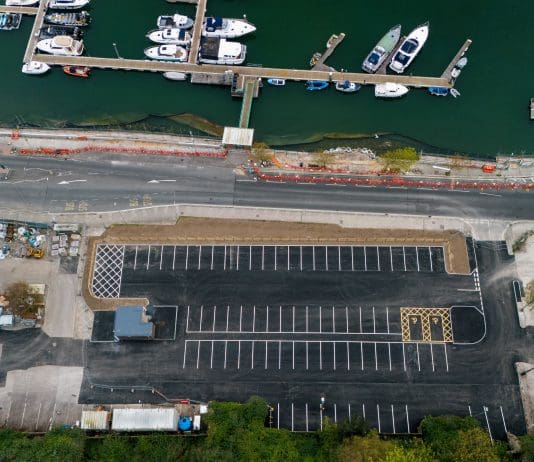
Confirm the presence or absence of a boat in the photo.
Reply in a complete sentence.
Yes, a boat is visible in the scene.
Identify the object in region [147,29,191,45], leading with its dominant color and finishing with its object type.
white boat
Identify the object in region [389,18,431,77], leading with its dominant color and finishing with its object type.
white boat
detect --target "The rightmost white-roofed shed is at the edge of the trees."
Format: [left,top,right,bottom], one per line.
[112,407,180,431]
